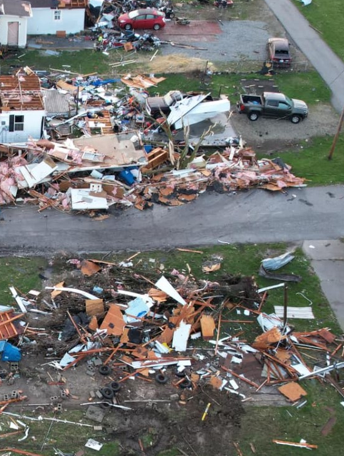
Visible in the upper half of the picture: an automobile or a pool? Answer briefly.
automobile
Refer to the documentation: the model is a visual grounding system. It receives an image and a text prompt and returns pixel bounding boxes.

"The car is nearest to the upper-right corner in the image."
[267,36,294,64]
